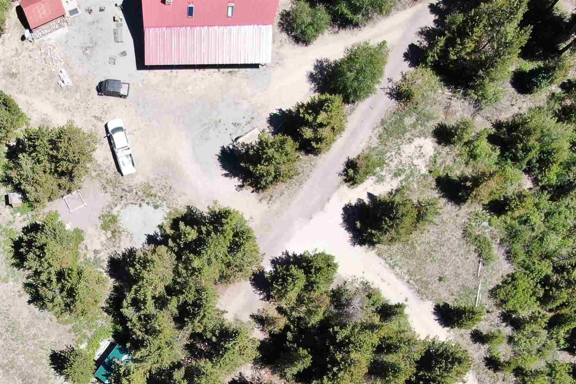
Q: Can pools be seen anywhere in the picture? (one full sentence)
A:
No, the picture doesn't show any pool.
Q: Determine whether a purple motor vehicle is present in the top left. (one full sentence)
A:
No, no purple motor vehicle is visible in the top left.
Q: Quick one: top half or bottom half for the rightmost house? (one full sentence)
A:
The rightmost house is in the top half of the image.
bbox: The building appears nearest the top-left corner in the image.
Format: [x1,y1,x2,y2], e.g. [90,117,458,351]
[20,0,65,33]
